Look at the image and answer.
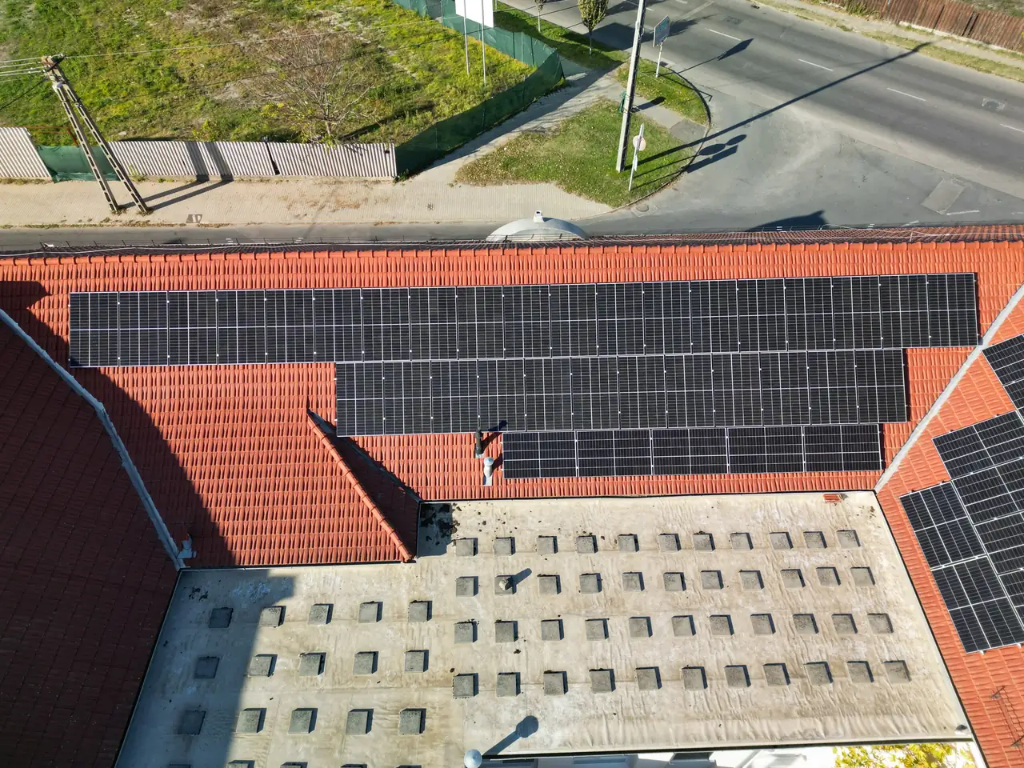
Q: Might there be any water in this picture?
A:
No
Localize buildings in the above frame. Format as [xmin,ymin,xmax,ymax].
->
[0,209,1024,768]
